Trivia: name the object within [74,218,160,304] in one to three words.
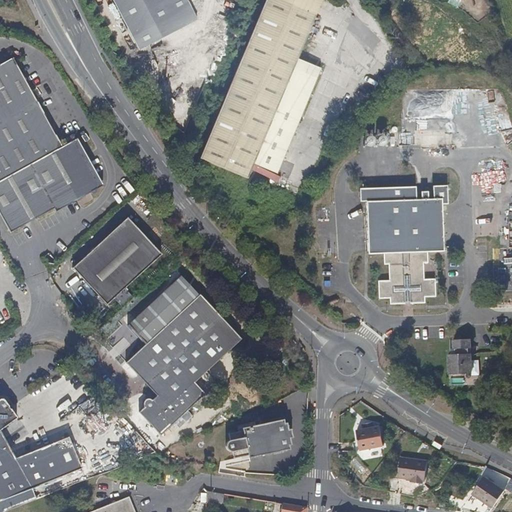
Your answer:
building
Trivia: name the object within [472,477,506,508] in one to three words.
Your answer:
house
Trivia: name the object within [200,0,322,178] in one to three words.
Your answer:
warehouse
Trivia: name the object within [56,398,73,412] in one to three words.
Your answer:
vehicle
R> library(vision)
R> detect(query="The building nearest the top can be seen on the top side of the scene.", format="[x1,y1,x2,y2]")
[114,0,197,49]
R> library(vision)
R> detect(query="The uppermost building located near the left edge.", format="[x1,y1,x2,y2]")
[0,58,62,180]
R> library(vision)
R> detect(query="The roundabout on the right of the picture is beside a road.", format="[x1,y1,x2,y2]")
[312,326,386,413]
